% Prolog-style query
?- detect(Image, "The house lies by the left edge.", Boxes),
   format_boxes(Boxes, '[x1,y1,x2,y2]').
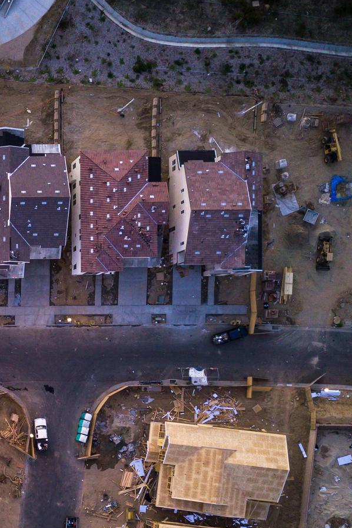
[0,126,72,278]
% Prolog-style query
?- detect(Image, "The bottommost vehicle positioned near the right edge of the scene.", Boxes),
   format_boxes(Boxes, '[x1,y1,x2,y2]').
[319,228,340,270]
